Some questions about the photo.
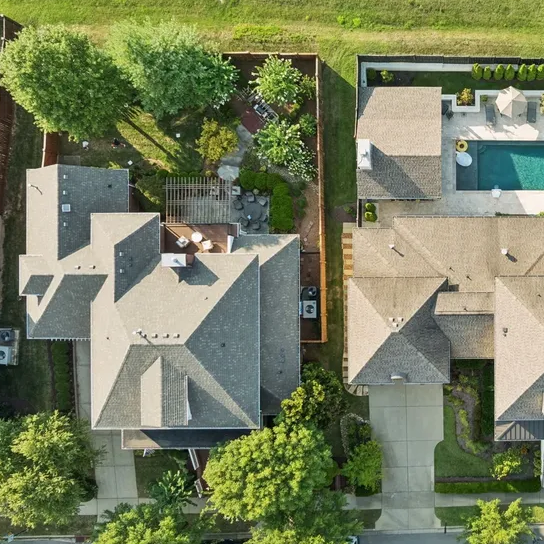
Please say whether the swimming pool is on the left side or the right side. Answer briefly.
right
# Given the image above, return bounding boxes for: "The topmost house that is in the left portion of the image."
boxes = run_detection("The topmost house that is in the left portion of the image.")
[18,164,304,449]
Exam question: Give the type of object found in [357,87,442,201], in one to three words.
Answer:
building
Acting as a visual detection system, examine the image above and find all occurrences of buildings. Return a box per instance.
[348,216,544,441]
[357,87,442,201]
[18,164,304,449]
